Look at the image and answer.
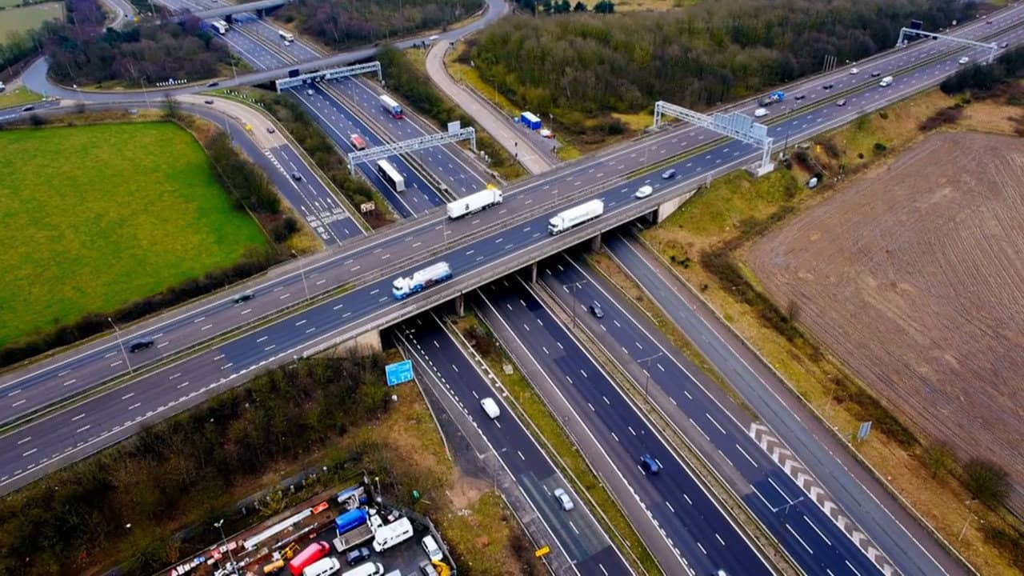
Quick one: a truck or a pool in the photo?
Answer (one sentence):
The image shows a truck.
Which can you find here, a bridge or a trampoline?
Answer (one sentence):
This aerial view contains a bridge.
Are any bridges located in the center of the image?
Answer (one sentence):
Yes, I can see a bridge in the center of the image.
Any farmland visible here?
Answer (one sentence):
Yes, there's farmland in this view.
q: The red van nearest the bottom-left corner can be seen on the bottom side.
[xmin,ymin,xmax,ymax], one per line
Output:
[288,548,332,576]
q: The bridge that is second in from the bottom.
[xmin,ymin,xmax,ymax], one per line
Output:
[248,48,374,88]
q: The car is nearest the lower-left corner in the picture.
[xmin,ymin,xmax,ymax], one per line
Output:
[128,338,154,352]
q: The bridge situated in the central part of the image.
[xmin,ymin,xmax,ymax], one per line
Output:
[231,142,706,366]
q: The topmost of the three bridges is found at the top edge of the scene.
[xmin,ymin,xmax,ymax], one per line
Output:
[179,0,281,24]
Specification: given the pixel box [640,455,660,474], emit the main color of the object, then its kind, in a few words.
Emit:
blue car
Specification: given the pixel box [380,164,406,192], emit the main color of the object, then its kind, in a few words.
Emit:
white truck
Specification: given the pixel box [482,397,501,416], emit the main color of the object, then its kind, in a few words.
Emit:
white vehicle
